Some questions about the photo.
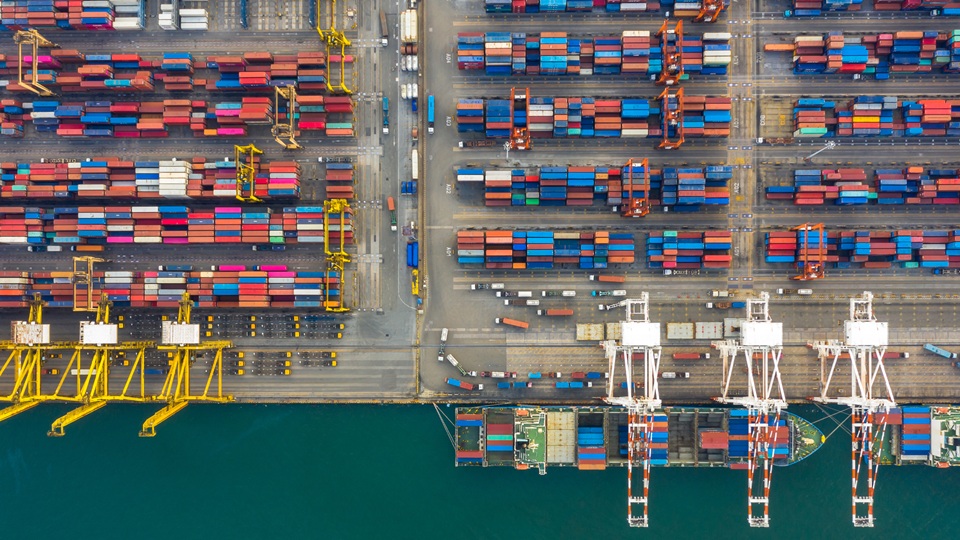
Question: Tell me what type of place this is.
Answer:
port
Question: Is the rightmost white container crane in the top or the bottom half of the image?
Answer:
bottom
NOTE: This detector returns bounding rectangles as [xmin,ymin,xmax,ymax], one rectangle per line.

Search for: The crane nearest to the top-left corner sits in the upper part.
[14,29,59,96]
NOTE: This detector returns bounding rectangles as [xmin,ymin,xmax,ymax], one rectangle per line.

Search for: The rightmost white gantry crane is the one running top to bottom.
[802,289,896,530]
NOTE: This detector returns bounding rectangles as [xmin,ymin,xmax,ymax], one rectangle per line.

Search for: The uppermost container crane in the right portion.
[689,0,723,22]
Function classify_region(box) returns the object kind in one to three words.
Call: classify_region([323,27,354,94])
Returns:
container crane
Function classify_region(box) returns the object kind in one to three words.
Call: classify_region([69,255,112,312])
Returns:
container crane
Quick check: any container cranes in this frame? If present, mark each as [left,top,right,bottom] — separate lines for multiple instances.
[322,197,353,256]
[619,156,650,217]
[273,84,305,149]
[69,255,112,312]
[654,85,686,149]
[707,289,786,530]
[43,289,161,442]
[14,29,59,96]
[597,289,659,530]
[689,0,723,22]
[323,27,354,94]
[0,289,100,429]
[802,289,896,530]
[788,222,826,280]
[652,19,685,85]
[506,85,533,149]
[233,142,267,202]
[322,255,353,312]
[135,289,236,442]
